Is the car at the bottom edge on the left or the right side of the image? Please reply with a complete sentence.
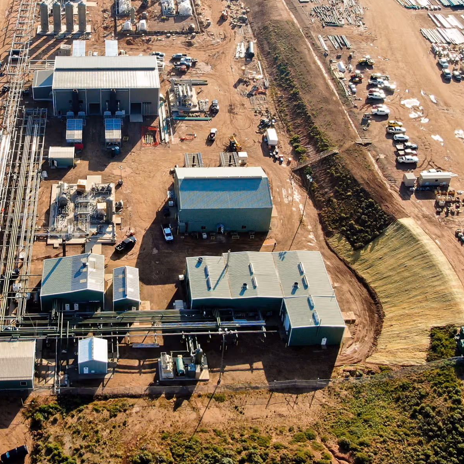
It is on the left.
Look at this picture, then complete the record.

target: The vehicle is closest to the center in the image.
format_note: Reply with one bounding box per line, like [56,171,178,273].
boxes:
[160,220,175,242]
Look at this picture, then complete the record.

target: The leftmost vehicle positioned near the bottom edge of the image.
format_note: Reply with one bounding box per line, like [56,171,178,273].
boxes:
[0,439,32,462]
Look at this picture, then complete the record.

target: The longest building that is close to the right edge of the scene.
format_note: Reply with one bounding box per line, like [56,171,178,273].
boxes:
[416,172,453,187]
